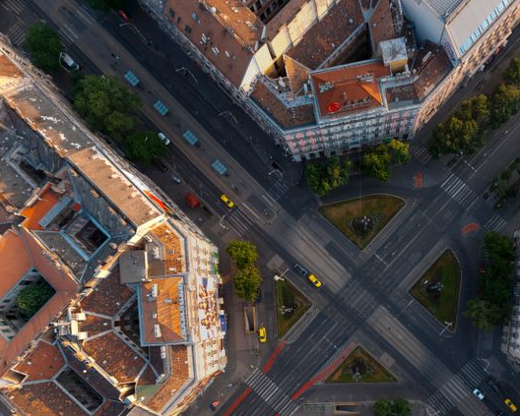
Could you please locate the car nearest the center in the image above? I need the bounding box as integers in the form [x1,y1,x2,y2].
[221,194,235,207]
